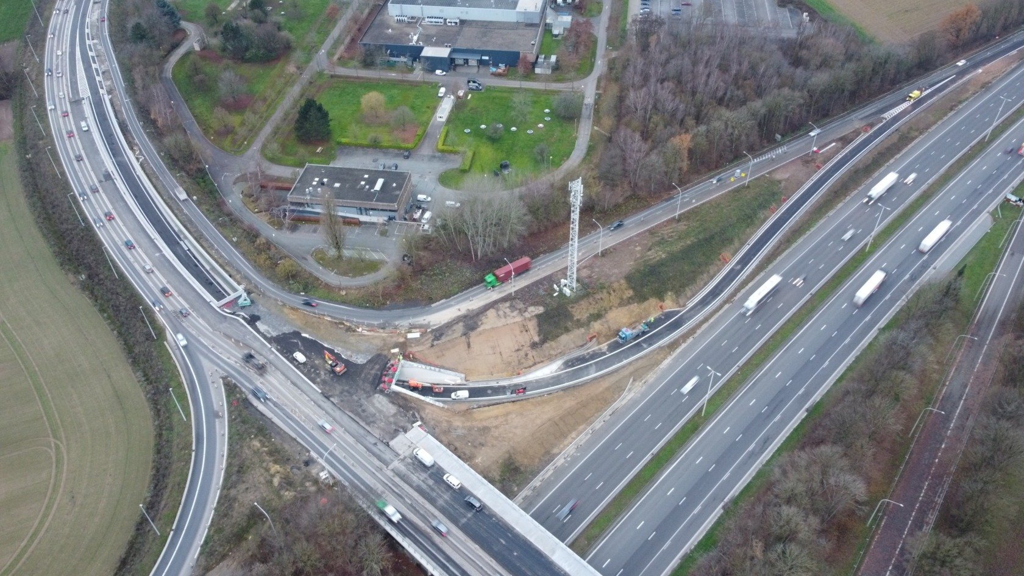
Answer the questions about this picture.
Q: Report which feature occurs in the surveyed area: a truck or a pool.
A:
truck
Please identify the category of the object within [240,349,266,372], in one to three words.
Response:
truck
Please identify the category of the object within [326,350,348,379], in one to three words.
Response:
work vehicle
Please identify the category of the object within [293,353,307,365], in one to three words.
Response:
vehicle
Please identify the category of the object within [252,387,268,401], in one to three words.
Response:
car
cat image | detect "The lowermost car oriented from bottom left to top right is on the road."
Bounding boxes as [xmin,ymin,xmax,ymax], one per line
[558,502,575,520]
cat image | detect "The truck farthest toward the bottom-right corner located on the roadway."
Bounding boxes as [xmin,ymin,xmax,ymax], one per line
[853,271,887,306]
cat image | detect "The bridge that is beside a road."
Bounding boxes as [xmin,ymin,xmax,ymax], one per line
[319,425,603,576]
